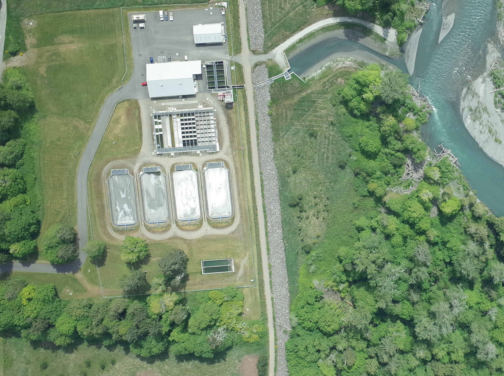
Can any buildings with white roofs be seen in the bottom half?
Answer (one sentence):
No, no building with a white roof is visible in the bottom half.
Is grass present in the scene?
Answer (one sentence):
Yes, grass can be seen from above here.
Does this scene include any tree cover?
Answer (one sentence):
Yes, tree cover can be seen from above here.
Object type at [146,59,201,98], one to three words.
building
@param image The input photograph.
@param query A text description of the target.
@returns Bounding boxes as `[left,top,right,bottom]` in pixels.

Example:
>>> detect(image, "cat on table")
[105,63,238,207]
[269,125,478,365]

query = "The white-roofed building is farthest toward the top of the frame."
[193,22,224,44]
